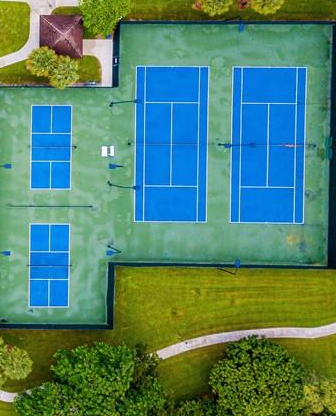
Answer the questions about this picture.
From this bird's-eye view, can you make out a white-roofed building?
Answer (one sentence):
No, I find no white-roofed building anywhere in the image.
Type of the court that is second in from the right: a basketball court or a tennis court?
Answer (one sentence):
In the photo, the court that is second in from the right shows up as a tennis court.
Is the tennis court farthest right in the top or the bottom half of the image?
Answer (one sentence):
It is in the top half that the tennis court farthest right appears.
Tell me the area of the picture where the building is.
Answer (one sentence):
You can find the building in the top left area of the picture.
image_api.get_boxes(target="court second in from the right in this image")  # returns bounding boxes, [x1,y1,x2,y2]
[128,65,219,223]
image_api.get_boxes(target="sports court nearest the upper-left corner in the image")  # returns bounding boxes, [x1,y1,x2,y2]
[28,106,77,190]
